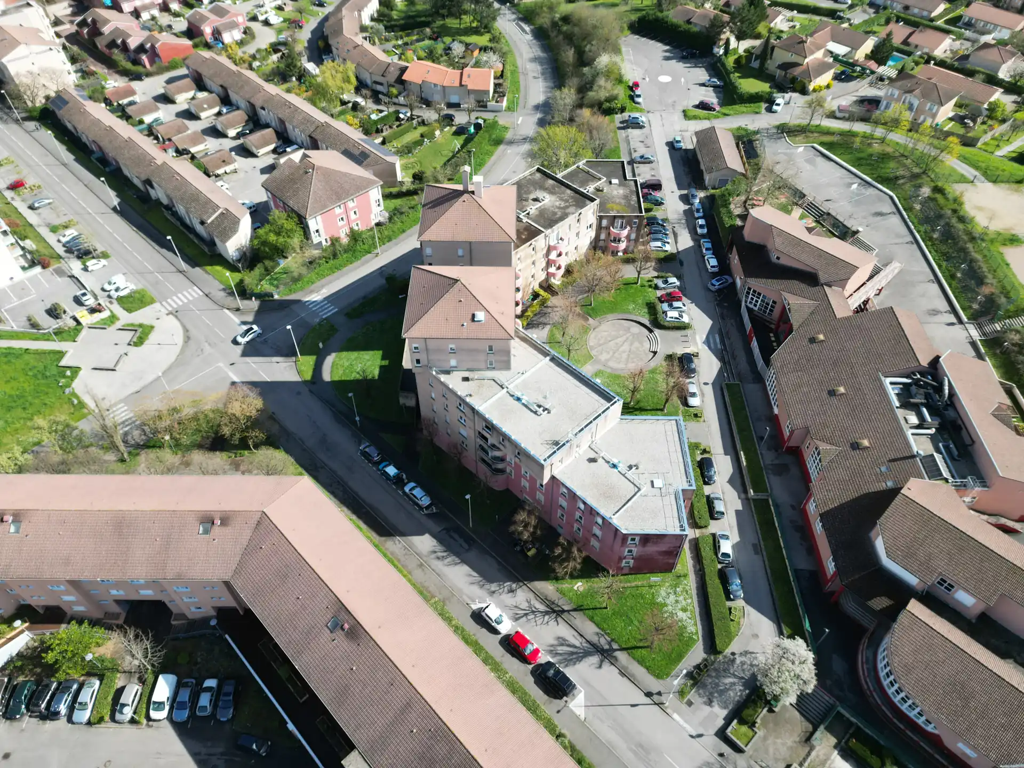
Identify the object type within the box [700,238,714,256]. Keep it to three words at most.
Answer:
car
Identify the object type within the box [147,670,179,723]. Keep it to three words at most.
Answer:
van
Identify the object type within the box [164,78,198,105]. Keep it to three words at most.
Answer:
building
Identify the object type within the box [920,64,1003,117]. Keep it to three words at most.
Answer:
house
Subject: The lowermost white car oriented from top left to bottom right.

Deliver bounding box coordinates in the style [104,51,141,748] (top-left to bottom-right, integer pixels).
[477,599,514,638]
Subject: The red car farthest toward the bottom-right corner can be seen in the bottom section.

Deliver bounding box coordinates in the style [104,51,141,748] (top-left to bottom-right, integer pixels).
[508,628,542,665]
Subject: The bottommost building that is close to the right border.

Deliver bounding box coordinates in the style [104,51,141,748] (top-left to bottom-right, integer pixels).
[870,599,1024,768]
